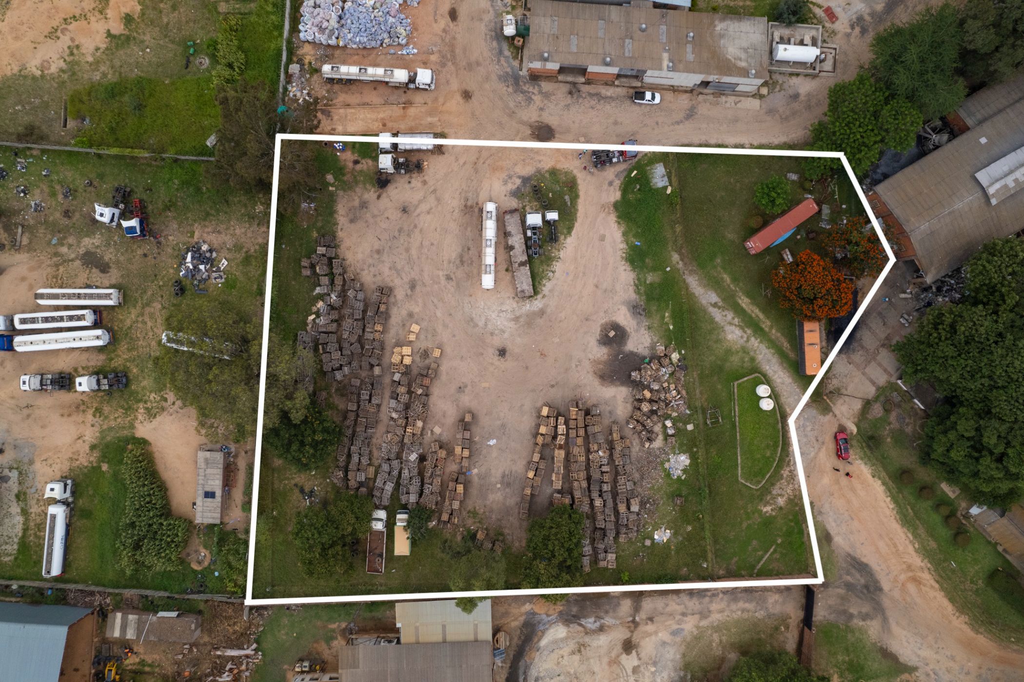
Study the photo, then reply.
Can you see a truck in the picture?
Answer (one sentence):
Yes, the photo shows a truck.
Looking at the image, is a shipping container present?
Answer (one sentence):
Yes, I can see a shipping container in this picture.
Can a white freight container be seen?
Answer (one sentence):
No, no white freight container is visible in the scene.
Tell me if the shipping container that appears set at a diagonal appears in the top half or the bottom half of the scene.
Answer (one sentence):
Seen from above, the shipping container that appears set at a diagonal lies in the top half of the view.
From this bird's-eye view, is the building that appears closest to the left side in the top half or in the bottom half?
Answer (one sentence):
The bottom half of the photo is where the building that appears closest to the left side is.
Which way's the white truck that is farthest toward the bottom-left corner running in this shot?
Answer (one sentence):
What the image shows is the white truck that is farthest toward the bottom-left corner lying up and down.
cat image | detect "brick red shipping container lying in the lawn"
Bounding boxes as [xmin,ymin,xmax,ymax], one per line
[744,200,815,253]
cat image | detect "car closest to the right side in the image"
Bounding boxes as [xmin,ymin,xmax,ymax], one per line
[833,433,849,460]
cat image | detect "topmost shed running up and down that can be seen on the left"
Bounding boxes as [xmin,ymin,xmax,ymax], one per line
[195,449,228,524]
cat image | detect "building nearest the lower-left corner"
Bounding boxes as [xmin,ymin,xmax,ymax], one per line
[0,602,98,682]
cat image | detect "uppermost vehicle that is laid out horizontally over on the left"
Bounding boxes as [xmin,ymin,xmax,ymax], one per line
[322,65,438,91]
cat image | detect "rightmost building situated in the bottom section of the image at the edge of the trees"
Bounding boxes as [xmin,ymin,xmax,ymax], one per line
[969,504,1024,572]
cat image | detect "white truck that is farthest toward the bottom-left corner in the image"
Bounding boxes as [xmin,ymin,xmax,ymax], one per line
[43,477,79,577]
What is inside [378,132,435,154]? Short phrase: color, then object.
white truck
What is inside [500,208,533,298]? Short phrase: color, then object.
gray trailer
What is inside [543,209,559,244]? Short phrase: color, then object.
white vehicle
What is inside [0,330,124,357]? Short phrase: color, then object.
white truck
